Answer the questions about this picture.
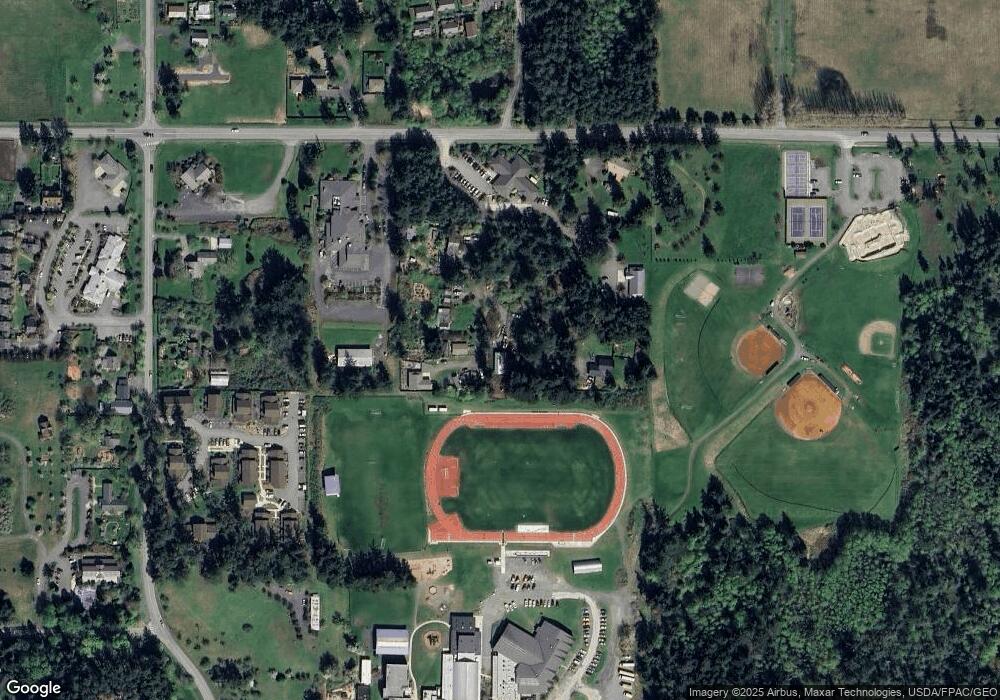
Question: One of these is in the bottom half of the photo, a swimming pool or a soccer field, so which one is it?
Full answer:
You can see a soccer field in the bottom half of the photo.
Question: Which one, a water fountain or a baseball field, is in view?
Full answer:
Of the two, only a baseball field appears.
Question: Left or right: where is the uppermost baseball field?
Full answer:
The uppermost baseball field appears in the right half of the scene.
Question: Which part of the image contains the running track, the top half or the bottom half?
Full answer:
The running track is in the bottom half of the image.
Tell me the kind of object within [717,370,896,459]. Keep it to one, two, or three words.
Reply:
baseball field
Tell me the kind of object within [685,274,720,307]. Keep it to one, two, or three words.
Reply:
baseball field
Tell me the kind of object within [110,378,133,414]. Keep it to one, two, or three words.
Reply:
house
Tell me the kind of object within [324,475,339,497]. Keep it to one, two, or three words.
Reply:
barn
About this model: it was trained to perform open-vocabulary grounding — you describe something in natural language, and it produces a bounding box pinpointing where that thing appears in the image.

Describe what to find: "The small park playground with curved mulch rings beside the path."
[775,289,800,329]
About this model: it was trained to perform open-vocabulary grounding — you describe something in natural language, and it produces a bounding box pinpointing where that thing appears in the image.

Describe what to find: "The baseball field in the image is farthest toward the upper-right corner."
[859,322,896,359]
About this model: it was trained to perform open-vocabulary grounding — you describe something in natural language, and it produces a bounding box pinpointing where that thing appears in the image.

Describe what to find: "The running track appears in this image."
[426,413,627,547]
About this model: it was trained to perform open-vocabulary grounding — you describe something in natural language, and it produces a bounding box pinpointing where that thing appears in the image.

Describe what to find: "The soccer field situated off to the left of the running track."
[324,398,428,552]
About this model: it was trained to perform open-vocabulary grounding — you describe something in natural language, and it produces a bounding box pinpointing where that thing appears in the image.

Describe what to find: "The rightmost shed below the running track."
[573,561,602,574]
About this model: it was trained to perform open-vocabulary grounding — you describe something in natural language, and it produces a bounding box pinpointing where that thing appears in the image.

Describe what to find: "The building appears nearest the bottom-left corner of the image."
[80,557,119,584]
